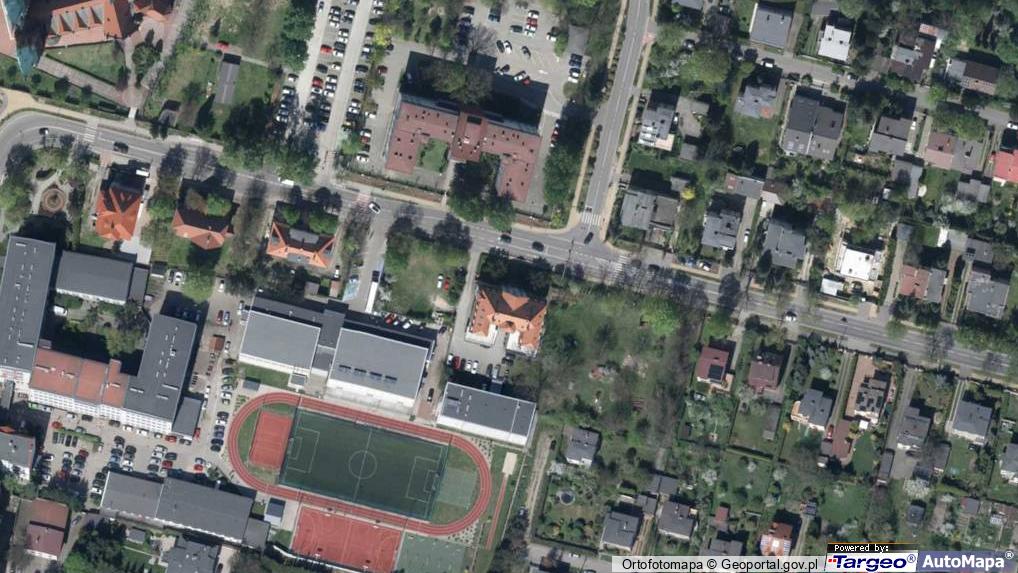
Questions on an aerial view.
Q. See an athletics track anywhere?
Yes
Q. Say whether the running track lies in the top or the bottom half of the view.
bottom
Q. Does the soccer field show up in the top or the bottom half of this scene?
bottom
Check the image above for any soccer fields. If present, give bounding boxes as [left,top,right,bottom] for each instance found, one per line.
[279,407,448,521]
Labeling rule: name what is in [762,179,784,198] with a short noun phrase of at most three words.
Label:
shed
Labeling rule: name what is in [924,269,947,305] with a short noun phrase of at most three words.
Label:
house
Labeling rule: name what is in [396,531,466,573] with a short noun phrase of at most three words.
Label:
sports court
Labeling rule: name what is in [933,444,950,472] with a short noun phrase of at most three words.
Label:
building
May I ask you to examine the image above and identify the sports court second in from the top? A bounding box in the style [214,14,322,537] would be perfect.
[437,468,478,508]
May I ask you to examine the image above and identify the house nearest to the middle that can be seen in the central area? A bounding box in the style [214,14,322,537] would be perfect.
[465,292,547,359]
